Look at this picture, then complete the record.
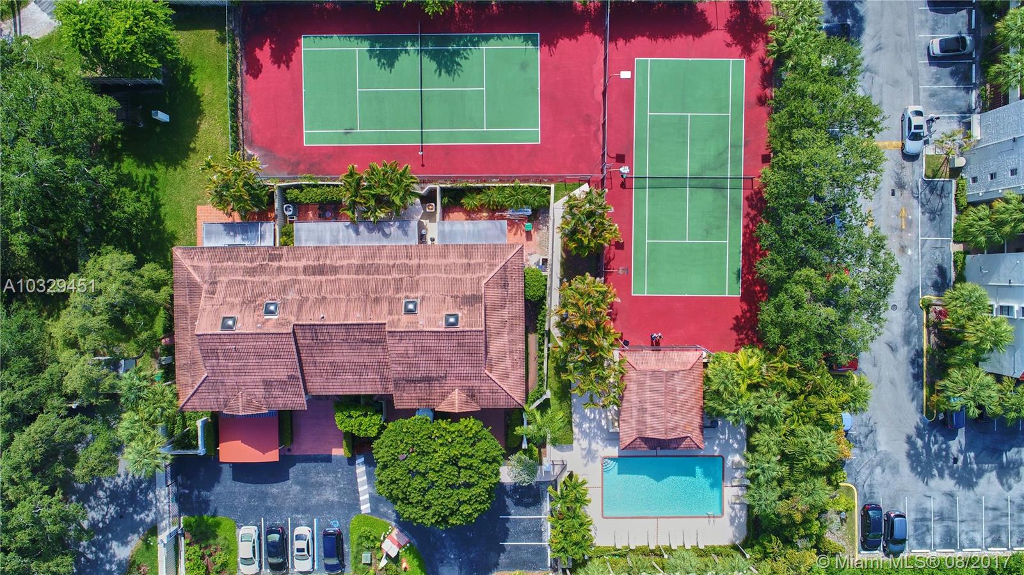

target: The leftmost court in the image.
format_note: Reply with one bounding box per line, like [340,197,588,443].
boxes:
[242,0,604,180]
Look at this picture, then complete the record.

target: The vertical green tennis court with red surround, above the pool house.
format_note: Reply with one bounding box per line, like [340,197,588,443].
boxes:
[601,0,773,345]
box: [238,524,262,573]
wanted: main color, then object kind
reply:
white car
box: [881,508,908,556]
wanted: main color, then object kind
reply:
blue car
